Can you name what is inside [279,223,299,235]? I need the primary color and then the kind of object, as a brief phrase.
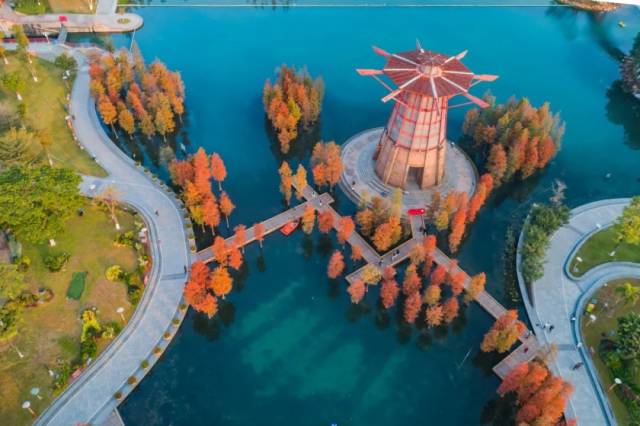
red boat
